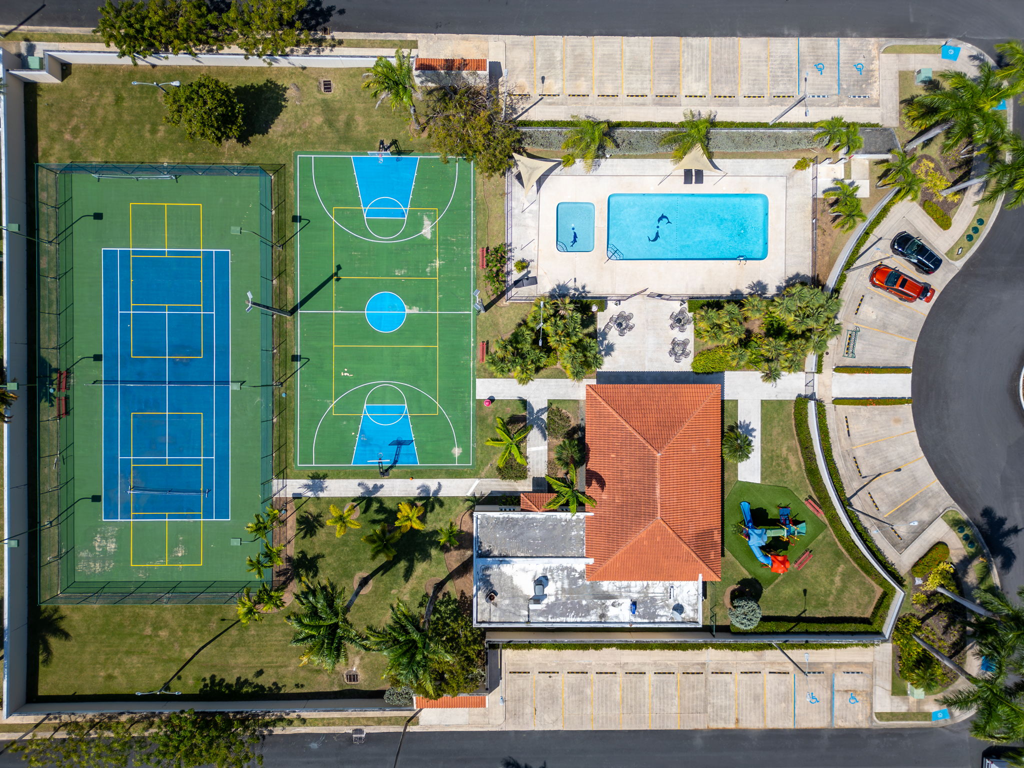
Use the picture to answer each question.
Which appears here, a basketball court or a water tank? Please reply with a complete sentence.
The image shows a basketball court.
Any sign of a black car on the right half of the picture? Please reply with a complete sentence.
Yes, the scene does show a black car on the right half of the picture.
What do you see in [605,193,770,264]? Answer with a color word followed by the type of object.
blue swimming pool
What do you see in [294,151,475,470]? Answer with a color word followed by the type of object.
green basketball court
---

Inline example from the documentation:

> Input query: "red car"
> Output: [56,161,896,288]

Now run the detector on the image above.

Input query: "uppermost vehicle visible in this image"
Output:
[887,231,947,275]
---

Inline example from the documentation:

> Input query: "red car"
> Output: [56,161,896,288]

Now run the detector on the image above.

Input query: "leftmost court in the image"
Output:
[59,173,261,595]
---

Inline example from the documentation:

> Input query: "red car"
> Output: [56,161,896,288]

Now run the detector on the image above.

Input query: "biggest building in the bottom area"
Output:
[473,383,723,626]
